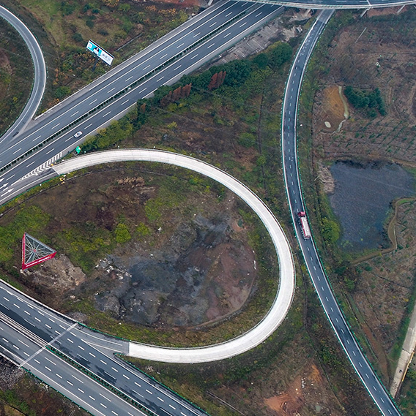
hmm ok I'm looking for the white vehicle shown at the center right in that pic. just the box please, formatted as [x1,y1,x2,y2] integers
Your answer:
[298,210,311,239]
